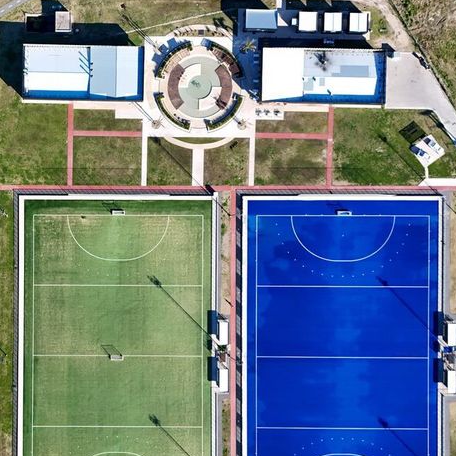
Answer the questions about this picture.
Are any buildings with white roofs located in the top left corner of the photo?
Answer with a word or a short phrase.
Yes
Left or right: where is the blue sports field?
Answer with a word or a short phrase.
right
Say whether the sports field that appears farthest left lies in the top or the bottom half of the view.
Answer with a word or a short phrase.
bottom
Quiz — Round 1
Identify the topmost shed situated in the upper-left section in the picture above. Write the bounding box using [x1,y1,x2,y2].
[55,11,71,34]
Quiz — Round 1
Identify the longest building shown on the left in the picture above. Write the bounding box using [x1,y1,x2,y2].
[23,43,144,103]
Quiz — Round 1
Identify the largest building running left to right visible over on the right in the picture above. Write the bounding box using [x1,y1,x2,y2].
[250,47,388,107]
